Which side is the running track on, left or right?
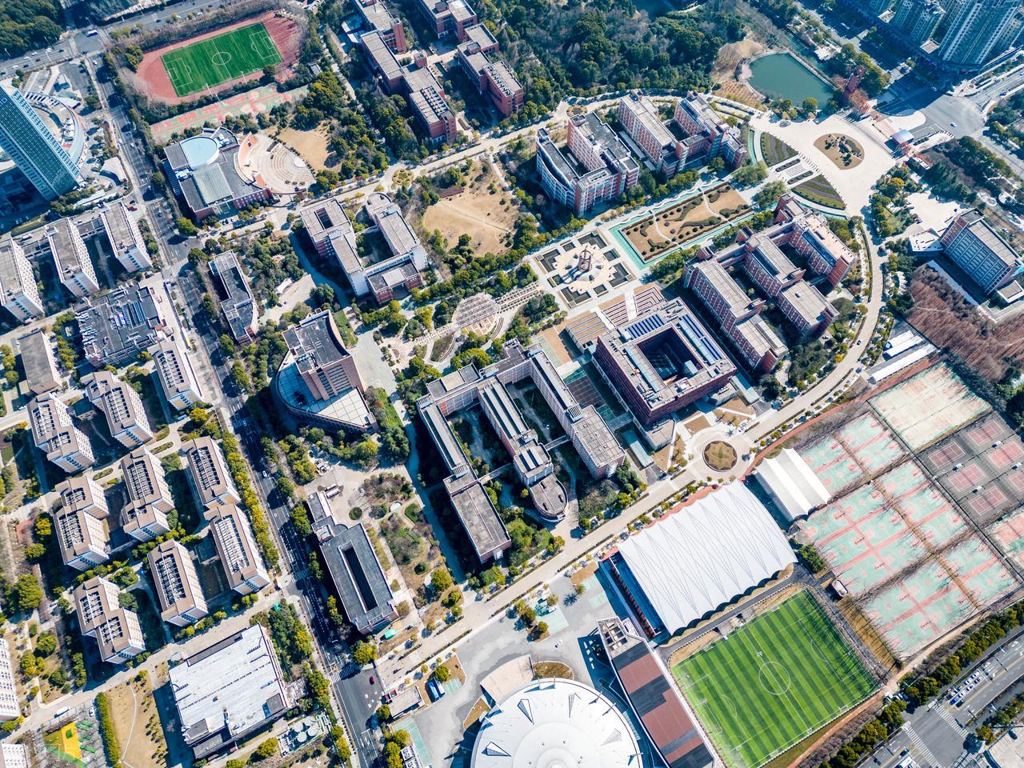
left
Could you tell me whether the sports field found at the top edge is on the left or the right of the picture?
left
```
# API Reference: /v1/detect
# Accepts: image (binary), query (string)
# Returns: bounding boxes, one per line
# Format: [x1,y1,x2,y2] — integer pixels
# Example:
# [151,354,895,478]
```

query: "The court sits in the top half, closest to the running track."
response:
[150,83,308,140]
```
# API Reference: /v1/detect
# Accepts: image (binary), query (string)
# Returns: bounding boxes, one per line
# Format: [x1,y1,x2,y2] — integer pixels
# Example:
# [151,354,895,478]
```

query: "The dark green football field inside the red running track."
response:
[159,21,284,97]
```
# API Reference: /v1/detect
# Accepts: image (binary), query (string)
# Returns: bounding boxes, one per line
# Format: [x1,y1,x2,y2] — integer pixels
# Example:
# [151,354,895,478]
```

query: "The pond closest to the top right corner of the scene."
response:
[749,51,834,109]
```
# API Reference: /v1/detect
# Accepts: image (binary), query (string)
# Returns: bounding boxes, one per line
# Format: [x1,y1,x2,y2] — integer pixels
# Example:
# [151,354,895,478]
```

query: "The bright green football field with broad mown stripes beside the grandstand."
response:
[670,584,881,768]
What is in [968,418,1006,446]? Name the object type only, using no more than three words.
tennis court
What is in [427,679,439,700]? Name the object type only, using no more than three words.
vehicle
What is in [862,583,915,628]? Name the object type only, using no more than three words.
basketball court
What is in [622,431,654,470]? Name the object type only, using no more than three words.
building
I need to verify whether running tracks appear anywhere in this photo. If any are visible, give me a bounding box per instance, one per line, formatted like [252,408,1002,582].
[132,15,308,105]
